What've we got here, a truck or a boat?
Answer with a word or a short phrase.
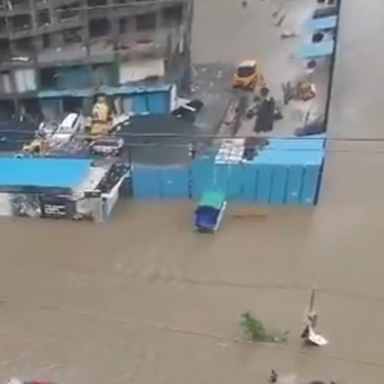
truck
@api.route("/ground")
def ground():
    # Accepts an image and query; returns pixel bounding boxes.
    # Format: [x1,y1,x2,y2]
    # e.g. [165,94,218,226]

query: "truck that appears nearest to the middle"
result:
[196,187,231,231]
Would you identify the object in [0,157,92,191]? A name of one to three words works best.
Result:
shed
